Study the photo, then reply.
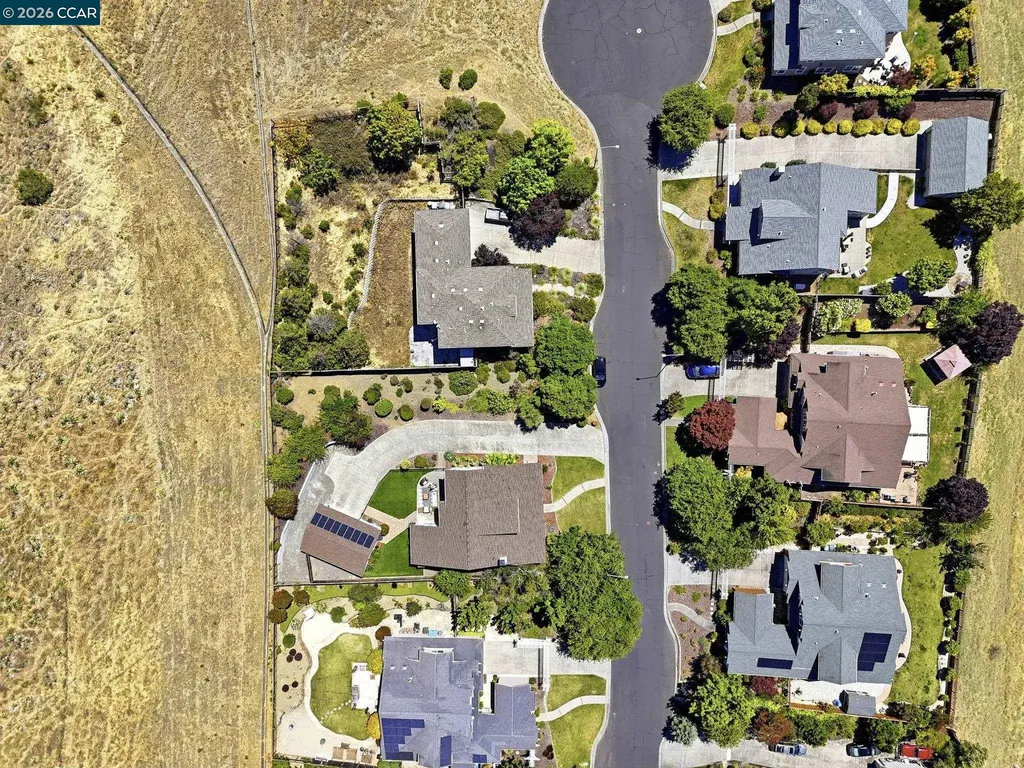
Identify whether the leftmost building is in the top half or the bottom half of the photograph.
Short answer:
bottom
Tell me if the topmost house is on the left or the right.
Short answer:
right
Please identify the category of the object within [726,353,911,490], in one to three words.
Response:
house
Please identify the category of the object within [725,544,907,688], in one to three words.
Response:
house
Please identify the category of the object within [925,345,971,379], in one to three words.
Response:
gazebo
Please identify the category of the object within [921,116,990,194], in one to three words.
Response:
building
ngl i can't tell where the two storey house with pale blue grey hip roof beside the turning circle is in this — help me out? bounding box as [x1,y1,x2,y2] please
[770,0,908,76]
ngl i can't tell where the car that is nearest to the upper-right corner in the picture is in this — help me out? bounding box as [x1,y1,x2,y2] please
[688,363,720,380]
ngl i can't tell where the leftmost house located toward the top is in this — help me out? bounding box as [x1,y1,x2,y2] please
[413,208,534,347]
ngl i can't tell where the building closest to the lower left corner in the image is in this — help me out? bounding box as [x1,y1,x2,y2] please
[300,503,381,576]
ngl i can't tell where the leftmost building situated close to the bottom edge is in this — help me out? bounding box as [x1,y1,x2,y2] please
[379,634,537,768]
